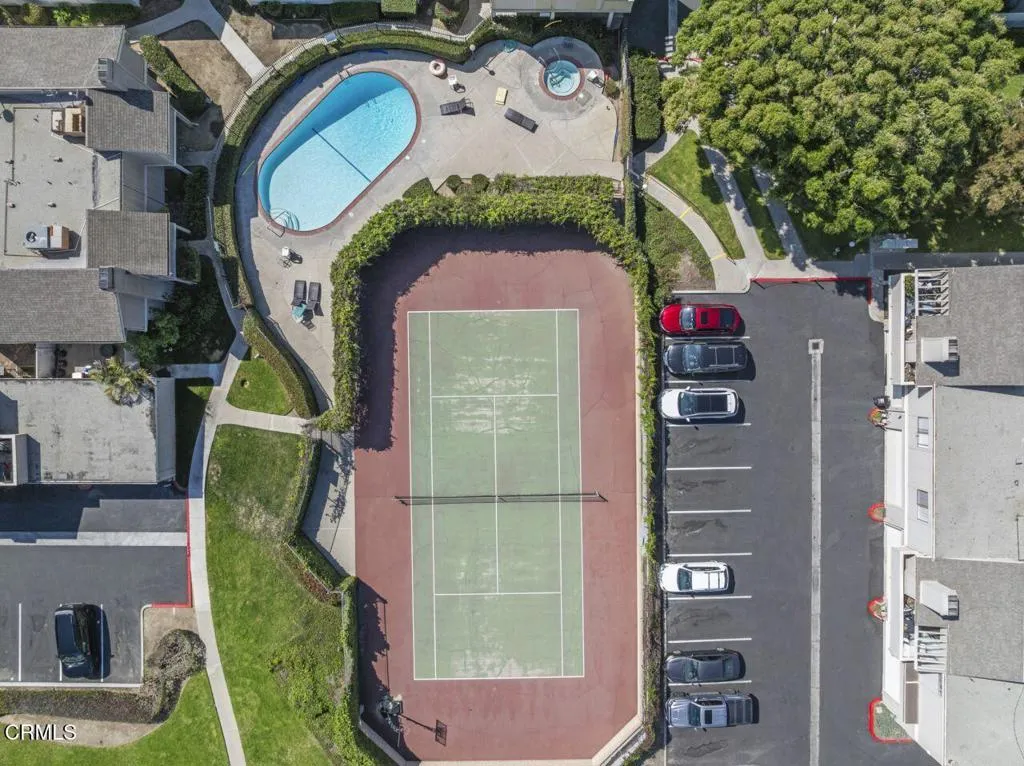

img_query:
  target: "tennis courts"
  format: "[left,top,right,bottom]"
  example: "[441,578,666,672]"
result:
[353,222,645,766]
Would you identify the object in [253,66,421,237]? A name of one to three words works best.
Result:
swimming pool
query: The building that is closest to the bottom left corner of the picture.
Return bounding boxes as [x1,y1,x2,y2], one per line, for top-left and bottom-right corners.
[0,378,177,497]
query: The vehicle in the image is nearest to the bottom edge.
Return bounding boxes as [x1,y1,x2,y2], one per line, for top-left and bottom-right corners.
[665,690,751,732]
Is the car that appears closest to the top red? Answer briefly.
Yes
